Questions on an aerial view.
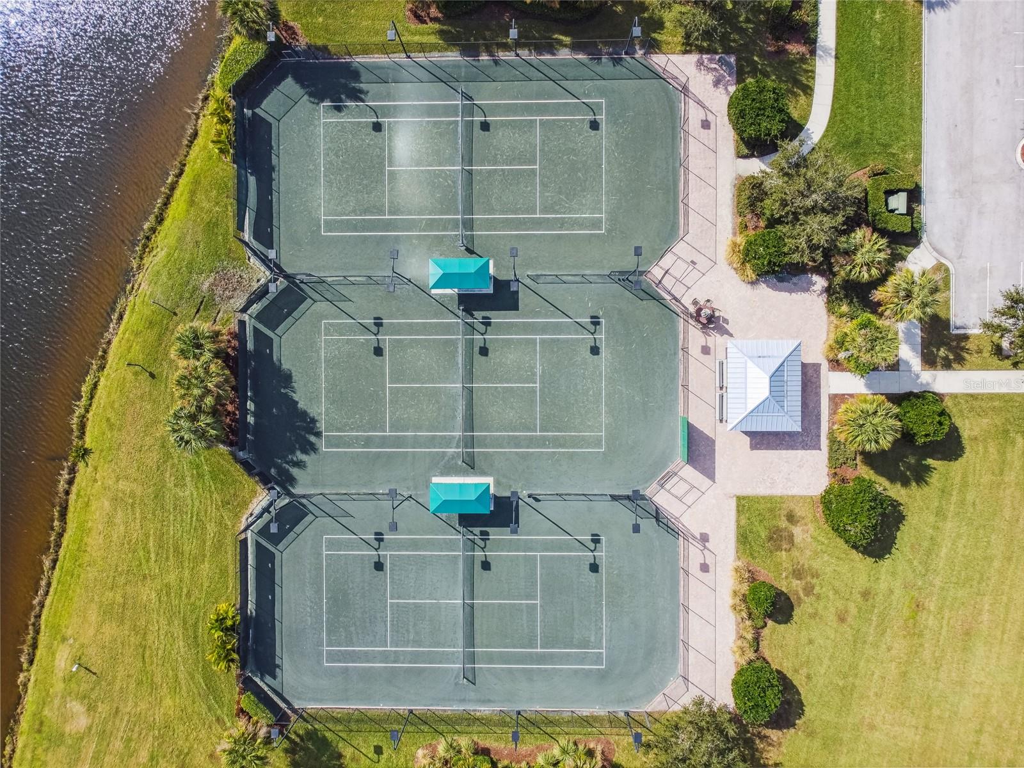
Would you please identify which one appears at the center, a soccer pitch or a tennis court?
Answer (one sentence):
The feature located at the center is a tennis court.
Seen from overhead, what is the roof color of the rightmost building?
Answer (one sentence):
The roof of the rightmost building is white.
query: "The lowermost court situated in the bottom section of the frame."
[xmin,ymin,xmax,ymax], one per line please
[249,492,682,713]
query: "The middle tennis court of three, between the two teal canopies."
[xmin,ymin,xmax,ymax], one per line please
[247,275,682,493]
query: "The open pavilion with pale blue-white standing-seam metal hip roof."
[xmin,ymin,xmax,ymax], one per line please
[722,340,802,432]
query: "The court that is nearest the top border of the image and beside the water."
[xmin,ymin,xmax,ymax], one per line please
[244,53,682,278]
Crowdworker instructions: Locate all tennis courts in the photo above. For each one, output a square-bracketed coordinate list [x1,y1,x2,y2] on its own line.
[247,275,682,493]
[249,492,682,713]
[244,53,682,278]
